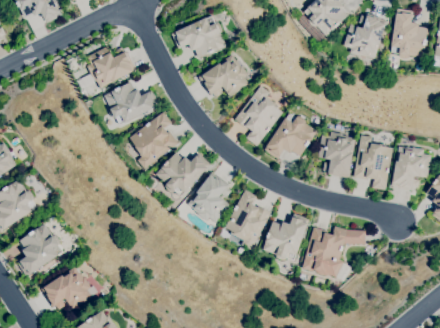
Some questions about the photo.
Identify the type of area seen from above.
residential area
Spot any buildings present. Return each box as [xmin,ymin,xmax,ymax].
[234,85,282,144]
[263,216,309,263]
[154,144,212,200]
[129,113,179,170]
[78,314,114,328]
[303,226,366,276]
[87,46,136,86]
[353,134,394,190]
[0,182,35,234]
[42,268,98,310]
[198,55,249,98]
[266,114,316,160]
[346,13,388,64]
[188,172,232,226]
[0,146,16,175]
[300,0,355,36]
[428,174,440,219]
[318,132,358,177]
[226,191,268,248]
[104,84,158,126]
[18,228,60,279]
[16,0,62,23]
[391,147,434,196]
[176,16,226,58]
[392,10,428,58]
